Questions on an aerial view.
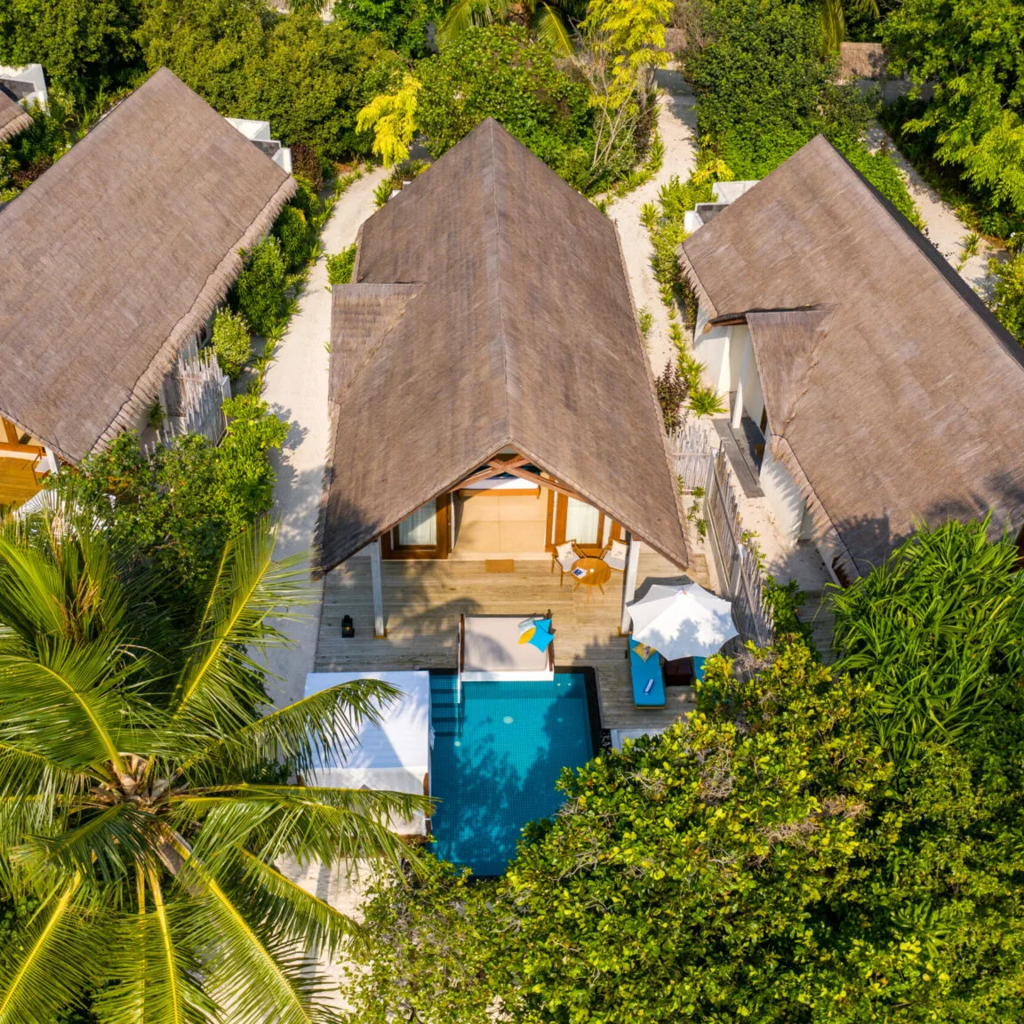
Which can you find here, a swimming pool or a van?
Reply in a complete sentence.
Of the two, only a swimming pool appears.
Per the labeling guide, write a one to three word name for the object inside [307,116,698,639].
house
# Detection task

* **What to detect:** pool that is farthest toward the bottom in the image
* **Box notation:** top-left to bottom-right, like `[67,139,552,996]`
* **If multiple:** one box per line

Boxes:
[413,666,608,888]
